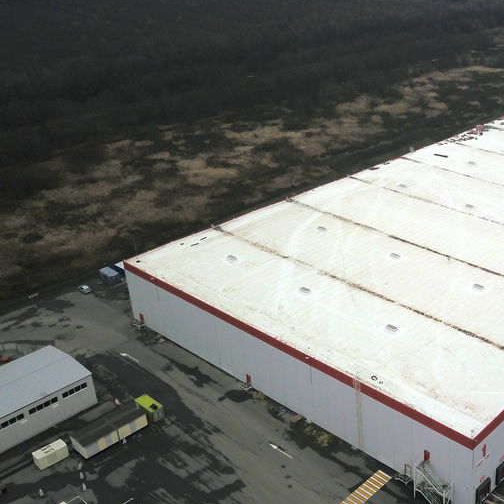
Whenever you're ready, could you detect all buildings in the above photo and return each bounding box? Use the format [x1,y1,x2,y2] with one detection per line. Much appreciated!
[0,344,99,453]
[69,403,148,458]
[121,116,504,504]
